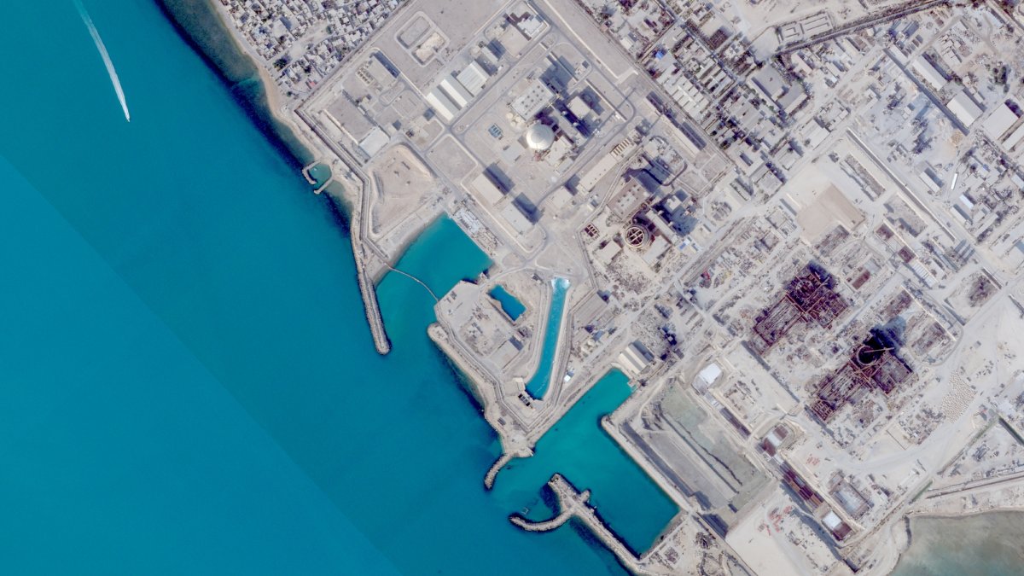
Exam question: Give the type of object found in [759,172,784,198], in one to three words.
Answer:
shed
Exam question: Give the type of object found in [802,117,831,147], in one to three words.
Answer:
building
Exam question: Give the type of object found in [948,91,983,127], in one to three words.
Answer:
building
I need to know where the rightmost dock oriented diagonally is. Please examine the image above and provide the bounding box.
[548,473,646,576]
